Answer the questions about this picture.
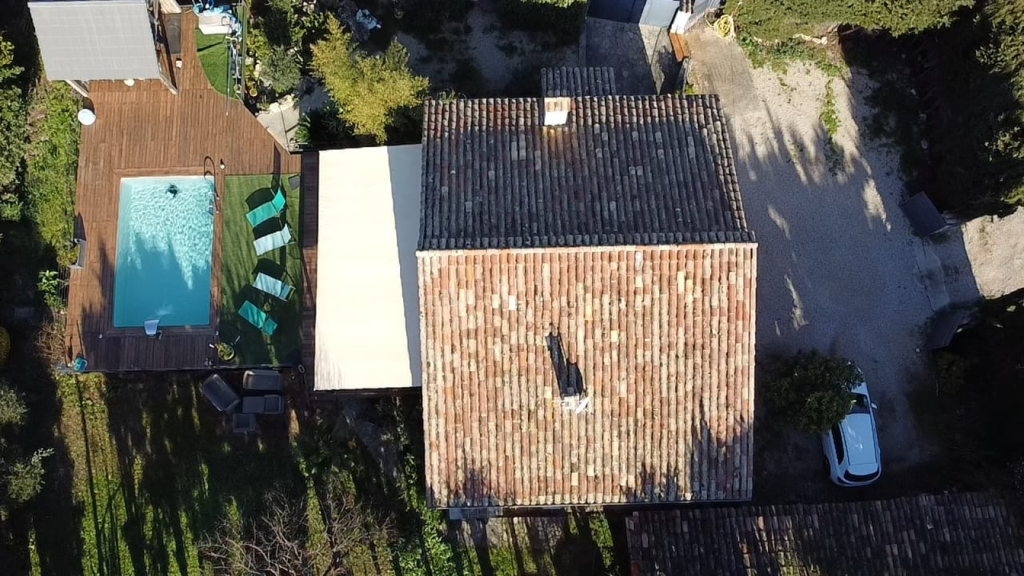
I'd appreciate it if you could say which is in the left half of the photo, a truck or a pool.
pool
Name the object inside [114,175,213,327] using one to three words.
swimming pool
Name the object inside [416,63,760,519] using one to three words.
house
